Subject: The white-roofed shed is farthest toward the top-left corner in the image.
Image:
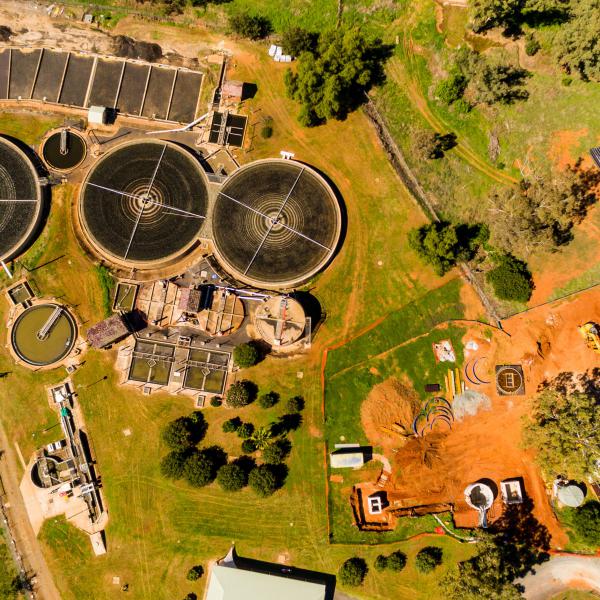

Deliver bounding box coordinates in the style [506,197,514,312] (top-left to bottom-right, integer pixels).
[88,105,107,125]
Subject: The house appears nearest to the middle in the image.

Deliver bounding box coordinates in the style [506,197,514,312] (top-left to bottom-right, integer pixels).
[179,287,202,312]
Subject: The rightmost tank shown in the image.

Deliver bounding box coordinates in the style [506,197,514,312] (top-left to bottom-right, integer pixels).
[555,480,585,509]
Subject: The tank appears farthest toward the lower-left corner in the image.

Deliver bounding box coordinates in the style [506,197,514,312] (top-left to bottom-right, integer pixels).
[32,457,62,487]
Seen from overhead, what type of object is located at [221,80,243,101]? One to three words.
building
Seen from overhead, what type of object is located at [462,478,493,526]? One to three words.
storage tank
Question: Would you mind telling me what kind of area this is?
industrial area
